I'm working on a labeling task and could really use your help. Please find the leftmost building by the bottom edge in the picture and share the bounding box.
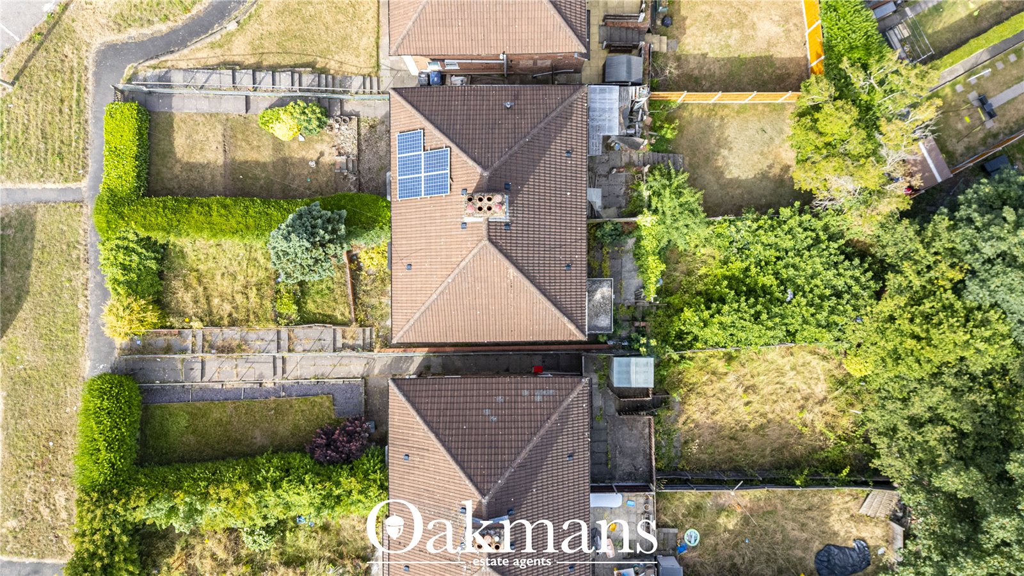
[387,370,591,576]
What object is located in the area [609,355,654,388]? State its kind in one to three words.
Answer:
shed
